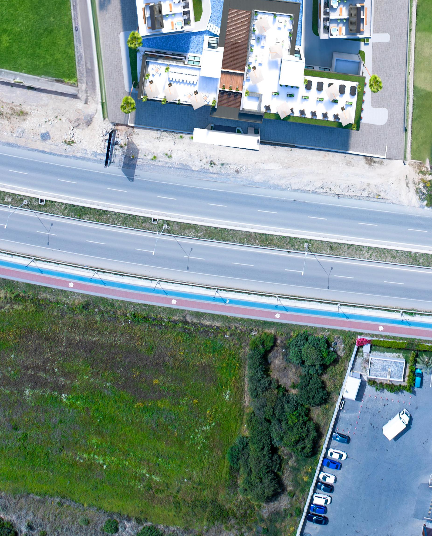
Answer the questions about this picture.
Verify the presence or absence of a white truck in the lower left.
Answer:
No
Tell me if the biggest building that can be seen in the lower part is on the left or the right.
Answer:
right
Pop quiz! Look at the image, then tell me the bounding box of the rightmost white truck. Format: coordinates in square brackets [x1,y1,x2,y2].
[383,413,410,448]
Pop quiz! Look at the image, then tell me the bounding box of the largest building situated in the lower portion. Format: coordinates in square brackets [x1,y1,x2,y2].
[367,350,406,383]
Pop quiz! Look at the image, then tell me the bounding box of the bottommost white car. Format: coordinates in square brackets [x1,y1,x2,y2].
[312,494,332,508]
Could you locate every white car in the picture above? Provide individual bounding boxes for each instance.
[312,494,332,508]
[318,472,337,485]
[327,449,347,463]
